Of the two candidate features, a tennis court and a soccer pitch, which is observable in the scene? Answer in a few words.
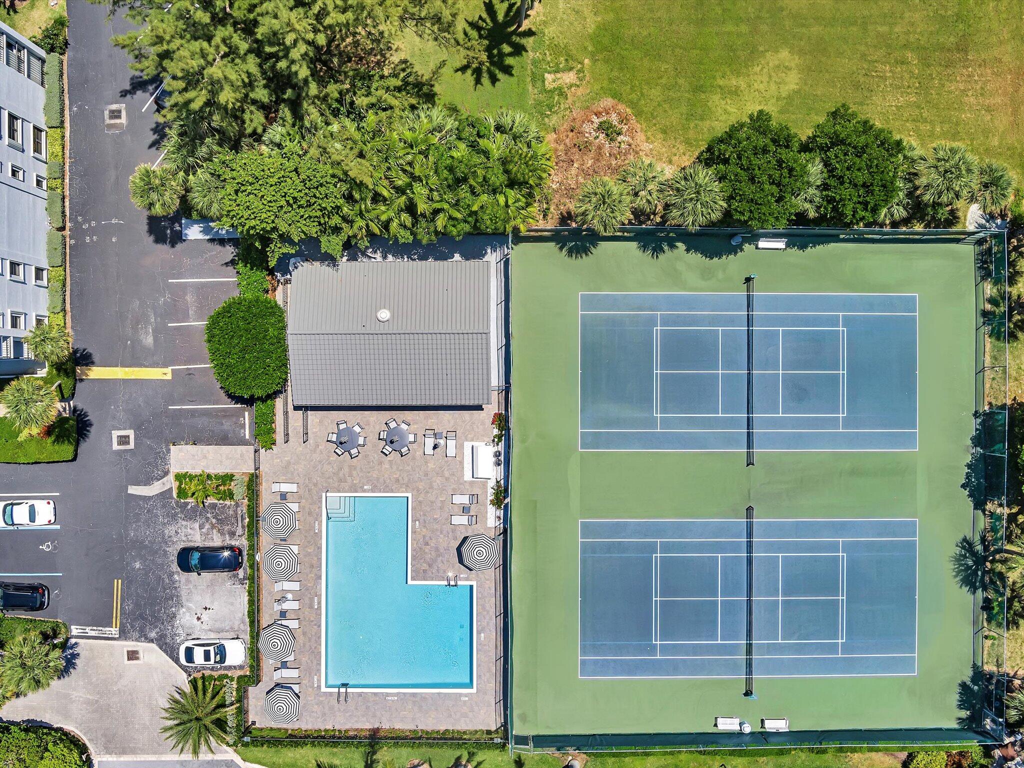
tennis court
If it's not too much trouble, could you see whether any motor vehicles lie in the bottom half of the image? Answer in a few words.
Yes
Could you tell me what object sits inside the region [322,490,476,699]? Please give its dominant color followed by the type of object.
blue swimming pool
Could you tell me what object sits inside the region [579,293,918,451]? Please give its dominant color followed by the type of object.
blue tennis court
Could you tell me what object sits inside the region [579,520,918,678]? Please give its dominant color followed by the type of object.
blue tennis court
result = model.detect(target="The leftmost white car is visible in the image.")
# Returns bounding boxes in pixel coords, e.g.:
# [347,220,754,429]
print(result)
[0,498,58,529]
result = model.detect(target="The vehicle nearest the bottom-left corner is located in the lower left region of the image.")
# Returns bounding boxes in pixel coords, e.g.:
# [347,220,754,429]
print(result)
[0,581,53,612]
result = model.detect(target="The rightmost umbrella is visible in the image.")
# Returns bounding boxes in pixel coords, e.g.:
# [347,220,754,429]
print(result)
[461,532,499,570]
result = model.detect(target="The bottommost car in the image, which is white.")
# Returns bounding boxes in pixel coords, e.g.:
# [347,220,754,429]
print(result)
[179,636,249,669]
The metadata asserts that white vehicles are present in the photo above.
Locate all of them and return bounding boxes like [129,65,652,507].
[0,498,58,529]
[179,636,249,669]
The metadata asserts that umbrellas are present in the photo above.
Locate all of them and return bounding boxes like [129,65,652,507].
[264,545,301,581]
[461,532,499,570]
[258,623,296,661]
[265,682,304,721]
[259,501,296,538]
